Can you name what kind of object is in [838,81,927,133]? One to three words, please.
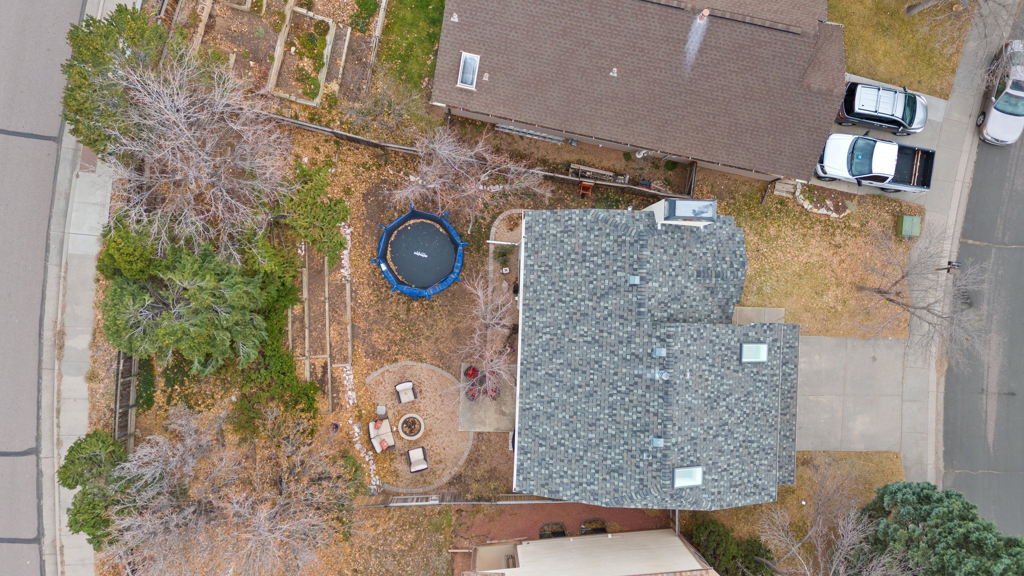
car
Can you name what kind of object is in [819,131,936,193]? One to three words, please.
truck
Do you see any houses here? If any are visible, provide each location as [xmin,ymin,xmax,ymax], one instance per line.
[430,0,848,185]
[463,530,713,576]
[510,198,802,516]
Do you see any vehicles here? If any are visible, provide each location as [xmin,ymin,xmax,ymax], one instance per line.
[838,81,927,133]
[819,131,936,193]
[980,46,1024,149]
